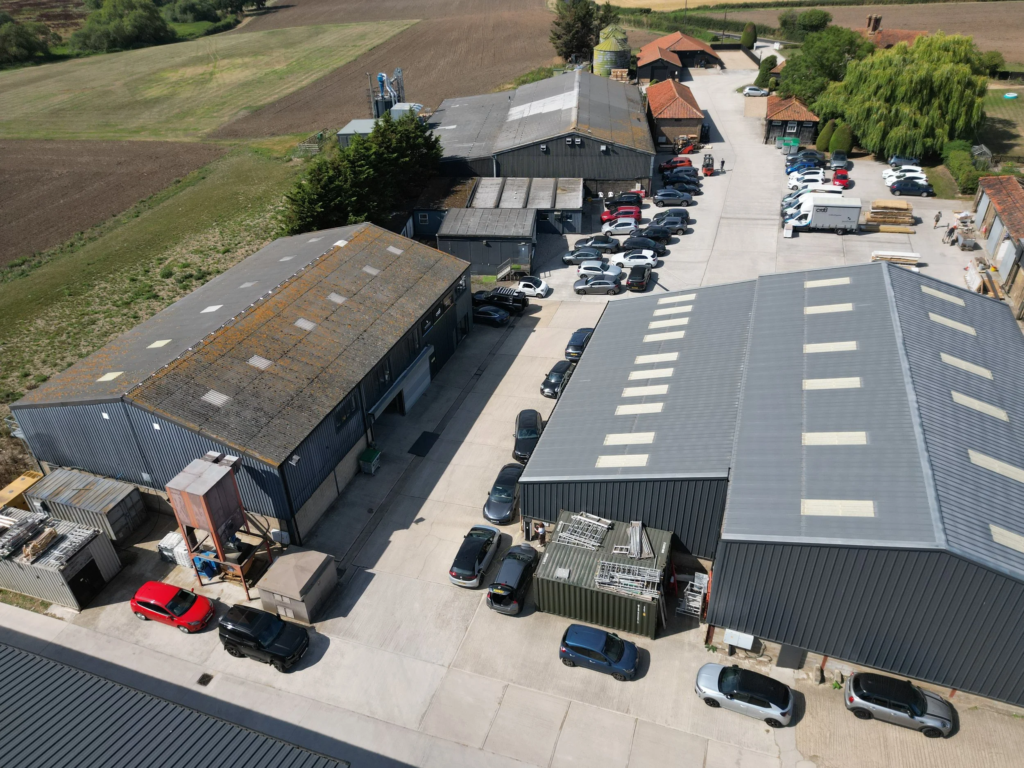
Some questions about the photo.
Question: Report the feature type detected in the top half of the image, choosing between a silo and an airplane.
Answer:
silo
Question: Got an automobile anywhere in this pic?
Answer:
Yes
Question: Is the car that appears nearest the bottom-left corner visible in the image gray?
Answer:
No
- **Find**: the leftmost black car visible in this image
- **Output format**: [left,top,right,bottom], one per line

[210,598,313,673]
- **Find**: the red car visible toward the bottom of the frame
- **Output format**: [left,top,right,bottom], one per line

[126,578,216,634]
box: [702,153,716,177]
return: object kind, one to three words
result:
work vehicle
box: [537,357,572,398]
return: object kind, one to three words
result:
car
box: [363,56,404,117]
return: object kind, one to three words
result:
silo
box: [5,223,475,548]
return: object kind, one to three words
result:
shed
